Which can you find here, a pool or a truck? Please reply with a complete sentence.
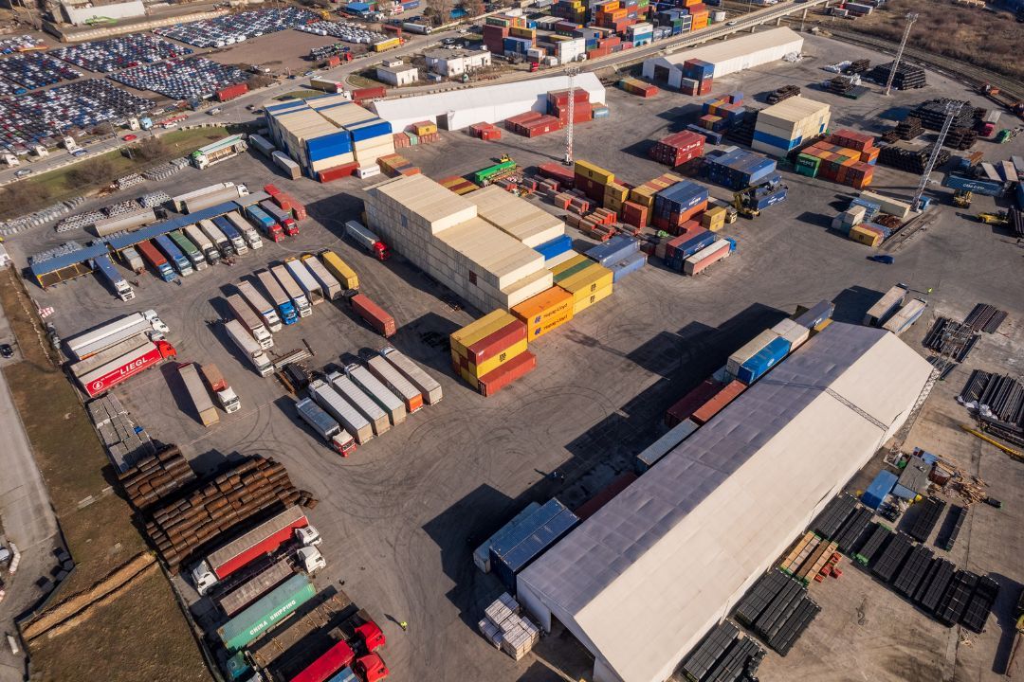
Visible in the photo is a truck.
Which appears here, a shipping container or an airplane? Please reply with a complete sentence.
Visible in the photo is a shipping container.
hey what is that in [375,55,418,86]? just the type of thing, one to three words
building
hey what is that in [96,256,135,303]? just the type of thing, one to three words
truck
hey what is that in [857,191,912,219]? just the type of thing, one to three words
shipping container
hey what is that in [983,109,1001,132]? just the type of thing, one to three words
vehicle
